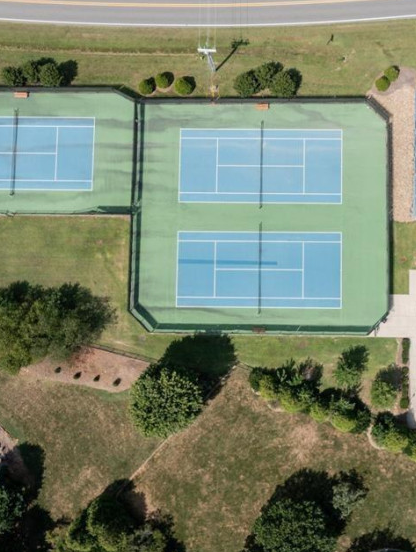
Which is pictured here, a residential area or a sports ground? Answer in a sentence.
This looks like a sports ground.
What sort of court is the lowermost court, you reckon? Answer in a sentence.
It turns out the lowermost court is a tennis court.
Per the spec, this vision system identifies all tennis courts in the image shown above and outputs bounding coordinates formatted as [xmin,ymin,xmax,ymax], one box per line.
[135,217,389,334]
[136,103,389,217]
[0,92,134,214]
